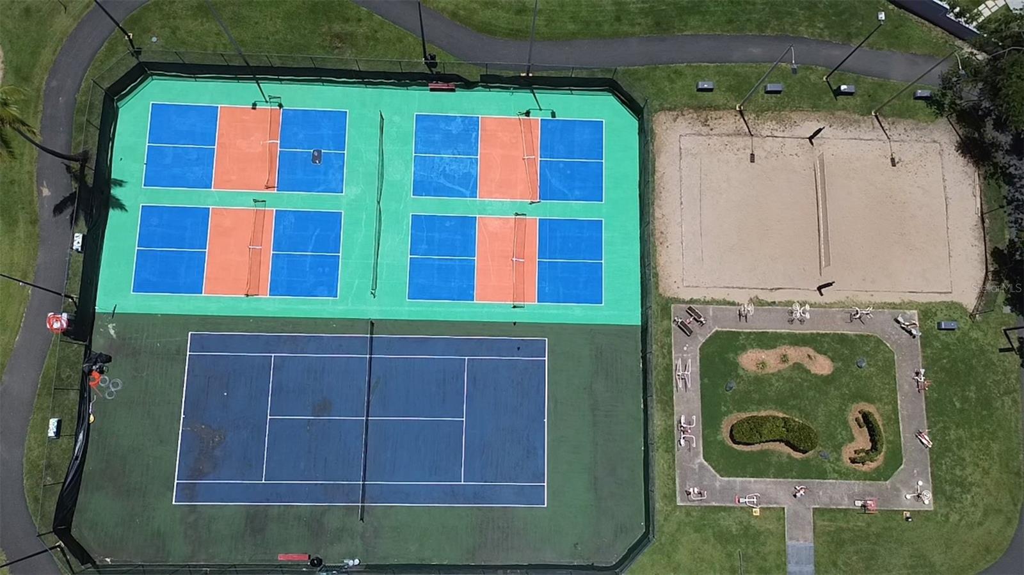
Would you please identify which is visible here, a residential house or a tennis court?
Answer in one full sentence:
The one in the frame is a tennis court.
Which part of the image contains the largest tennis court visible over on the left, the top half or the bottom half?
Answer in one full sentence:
It is in the bottom half that the largest tennis court visible over on the left appears.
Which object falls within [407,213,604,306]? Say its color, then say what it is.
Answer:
blue sports court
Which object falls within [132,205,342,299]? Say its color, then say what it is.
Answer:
blue sports court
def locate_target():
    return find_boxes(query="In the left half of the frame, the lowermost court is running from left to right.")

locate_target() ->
[67,312,644,564]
